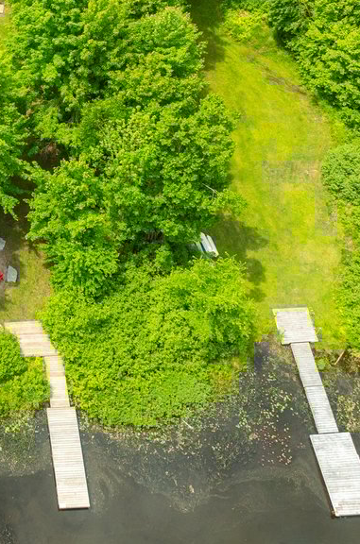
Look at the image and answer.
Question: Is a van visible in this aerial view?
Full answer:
No, the photo shows no van.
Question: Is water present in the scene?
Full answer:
Yes, the picture does contain water.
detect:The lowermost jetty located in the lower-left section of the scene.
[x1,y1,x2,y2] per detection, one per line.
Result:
[46,405,91,512]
